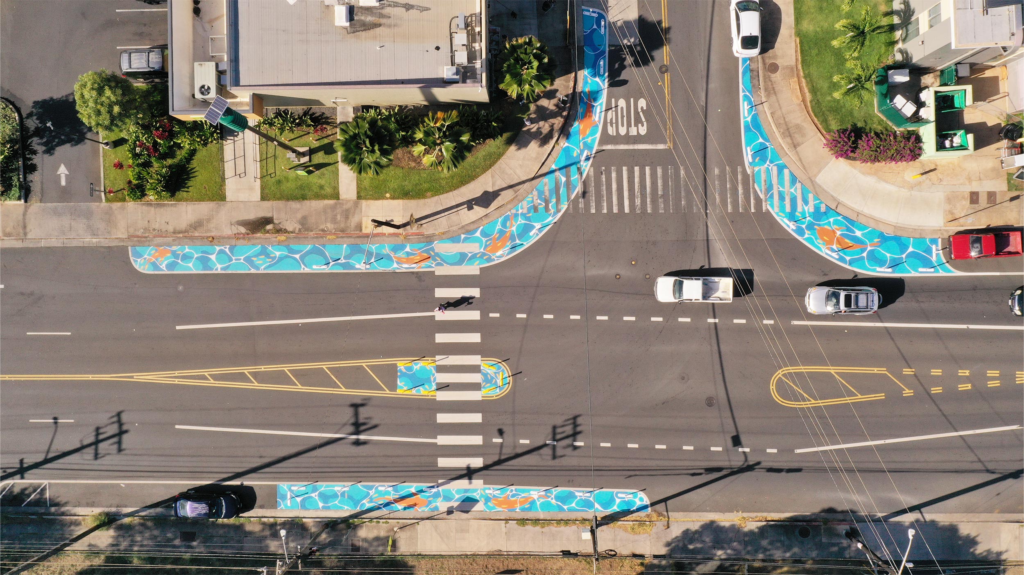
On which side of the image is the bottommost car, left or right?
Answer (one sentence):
You can find the bottommost car on the left side of the picture.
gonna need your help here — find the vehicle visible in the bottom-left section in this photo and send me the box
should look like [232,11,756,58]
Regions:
[174,491,244,524]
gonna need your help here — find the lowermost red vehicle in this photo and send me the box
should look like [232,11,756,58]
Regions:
[949,231,1024,261]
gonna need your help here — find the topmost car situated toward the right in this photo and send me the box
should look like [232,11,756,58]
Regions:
[729,0,763,57]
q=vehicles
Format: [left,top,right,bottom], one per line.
[174,491,244,524]
[729,0,763,57]
[949,231,1024,261]
[122,48,167,81]
[651,273,733,306]
[1008,287,1024,315]
[804,284,884,317]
